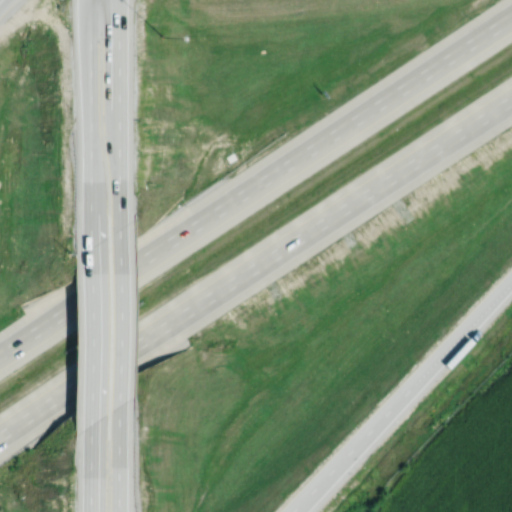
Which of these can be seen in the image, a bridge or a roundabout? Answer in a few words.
bridge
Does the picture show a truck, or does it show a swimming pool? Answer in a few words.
truck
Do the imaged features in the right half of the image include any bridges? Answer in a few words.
No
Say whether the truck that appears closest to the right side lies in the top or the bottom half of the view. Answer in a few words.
bottom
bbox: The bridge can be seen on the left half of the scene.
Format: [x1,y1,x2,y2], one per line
[68,222,140,433]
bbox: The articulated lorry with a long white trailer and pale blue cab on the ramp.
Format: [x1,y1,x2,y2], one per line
[446,331,478,369]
